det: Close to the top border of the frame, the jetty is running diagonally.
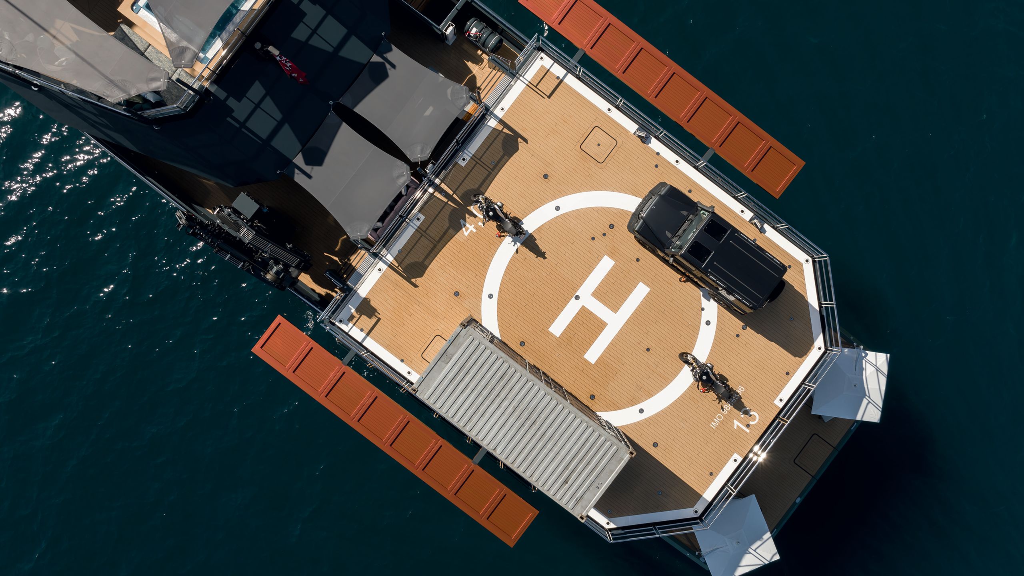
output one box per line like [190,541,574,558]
[519,0,806,200]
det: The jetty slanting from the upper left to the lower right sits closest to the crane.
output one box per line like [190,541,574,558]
[252,315,538,547]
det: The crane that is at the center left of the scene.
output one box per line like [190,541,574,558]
[174,192,316,297]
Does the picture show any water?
Yes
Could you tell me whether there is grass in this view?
No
